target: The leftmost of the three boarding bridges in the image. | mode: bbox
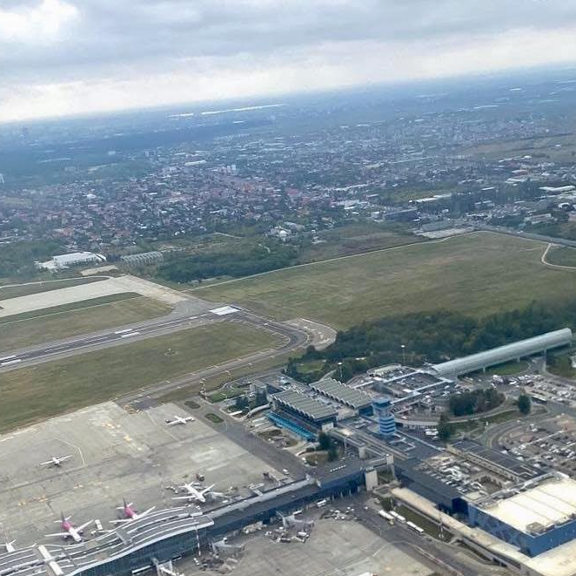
[157,557,182,576]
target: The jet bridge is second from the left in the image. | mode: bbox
[206,538,243,559]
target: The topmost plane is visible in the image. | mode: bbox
[166,410,194,426]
